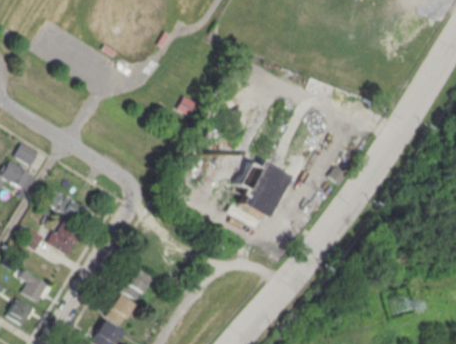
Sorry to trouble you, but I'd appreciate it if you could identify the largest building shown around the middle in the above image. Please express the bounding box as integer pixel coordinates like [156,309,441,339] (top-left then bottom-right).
[242,162,292,216]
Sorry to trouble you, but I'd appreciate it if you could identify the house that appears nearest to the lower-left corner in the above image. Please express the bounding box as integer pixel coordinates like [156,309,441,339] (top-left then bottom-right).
[4,296,32,325]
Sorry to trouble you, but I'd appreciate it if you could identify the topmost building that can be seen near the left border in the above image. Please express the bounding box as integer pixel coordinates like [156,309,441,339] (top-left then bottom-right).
[12,142,38,164]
